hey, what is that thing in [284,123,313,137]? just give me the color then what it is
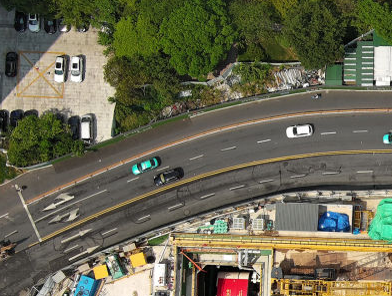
white vehicle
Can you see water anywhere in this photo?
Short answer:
No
